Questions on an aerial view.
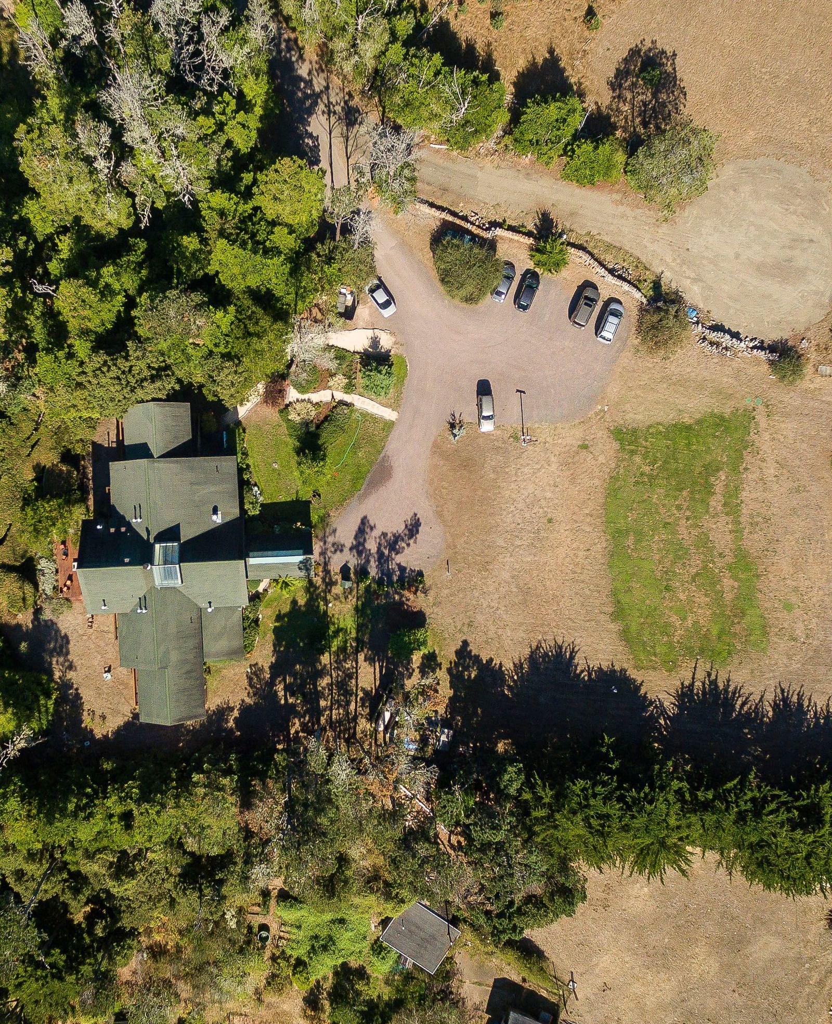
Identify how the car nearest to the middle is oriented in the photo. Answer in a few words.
from top to bottom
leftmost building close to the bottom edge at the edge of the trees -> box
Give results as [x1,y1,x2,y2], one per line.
[381,897,461,974]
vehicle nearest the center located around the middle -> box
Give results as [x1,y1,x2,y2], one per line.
[475,393,496,435]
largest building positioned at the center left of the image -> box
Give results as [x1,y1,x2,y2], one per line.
[72,402,315,725]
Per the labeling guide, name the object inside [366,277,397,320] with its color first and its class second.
white car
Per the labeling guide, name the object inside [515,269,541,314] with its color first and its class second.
black car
